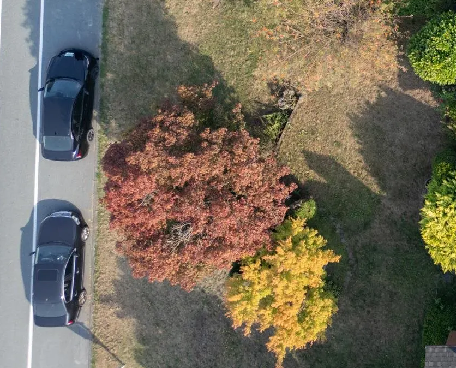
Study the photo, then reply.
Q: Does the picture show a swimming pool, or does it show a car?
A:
car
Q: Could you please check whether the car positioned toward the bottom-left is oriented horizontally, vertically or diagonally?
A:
vertically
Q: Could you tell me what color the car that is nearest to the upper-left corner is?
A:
black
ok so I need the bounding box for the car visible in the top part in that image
[39,47,100,161]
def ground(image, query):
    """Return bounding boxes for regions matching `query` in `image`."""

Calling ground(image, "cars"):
[28,210,89,330]
[39,47,100,161]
